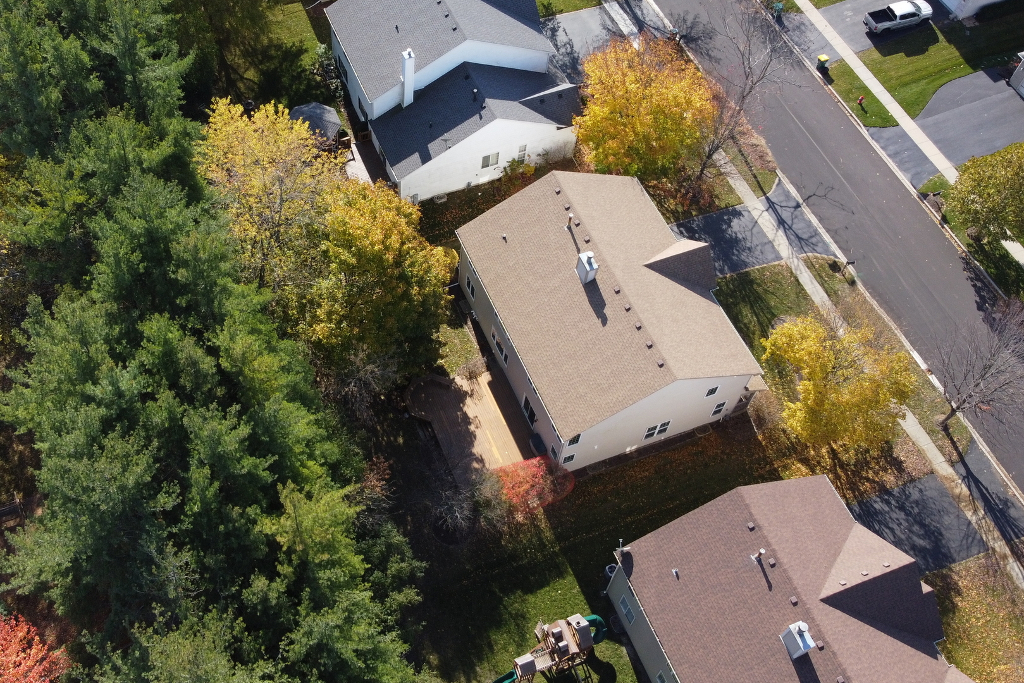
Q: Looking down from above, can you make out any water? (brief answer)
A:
No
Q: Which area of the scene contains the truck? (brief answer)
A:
top right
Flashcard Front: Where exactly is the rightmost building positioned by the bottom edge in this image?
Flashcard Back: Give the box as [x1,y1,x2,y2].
[605,474,1013,683]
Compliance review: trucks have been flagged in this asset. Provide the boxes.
[864,0,940,35]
